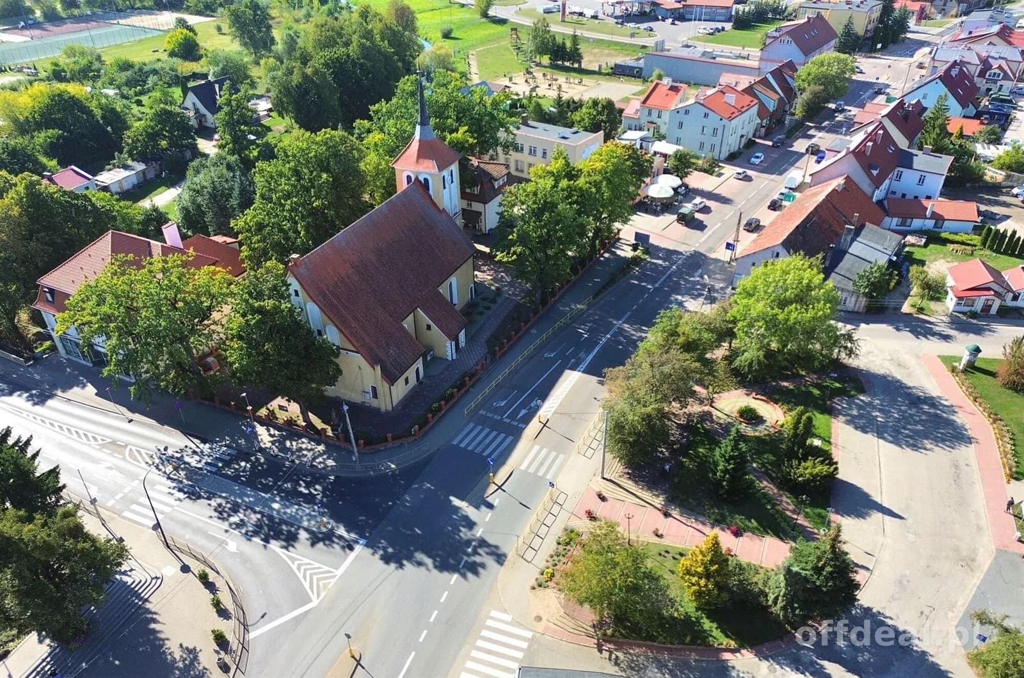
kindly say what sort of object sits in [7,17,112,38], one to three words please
sports court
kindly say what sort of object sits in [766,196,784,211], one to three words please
car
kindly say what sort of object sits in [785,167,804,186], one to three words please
vehicle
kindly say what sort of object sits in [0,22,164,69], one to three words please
sports court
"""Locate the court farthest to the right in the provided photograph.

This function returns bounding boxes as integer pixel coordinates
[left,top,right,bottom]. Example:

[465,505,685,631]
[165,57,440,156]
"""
[98,9,212,29]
